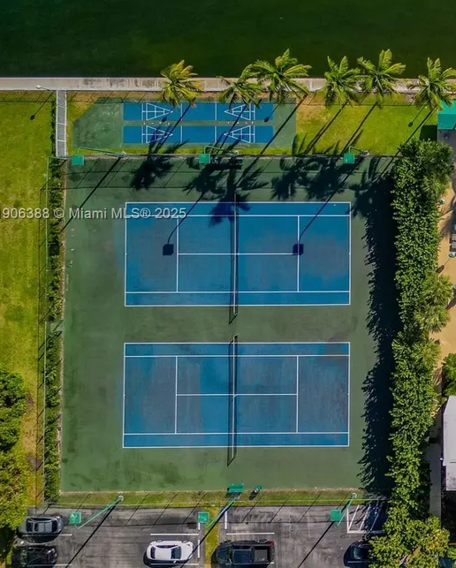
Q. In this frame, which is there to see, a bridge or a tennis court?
tennis court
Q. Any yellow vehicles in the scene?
No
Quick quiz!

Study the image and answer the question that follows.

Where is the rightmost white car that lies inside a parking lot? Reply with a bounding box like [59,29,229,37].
[148,539,197,563]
